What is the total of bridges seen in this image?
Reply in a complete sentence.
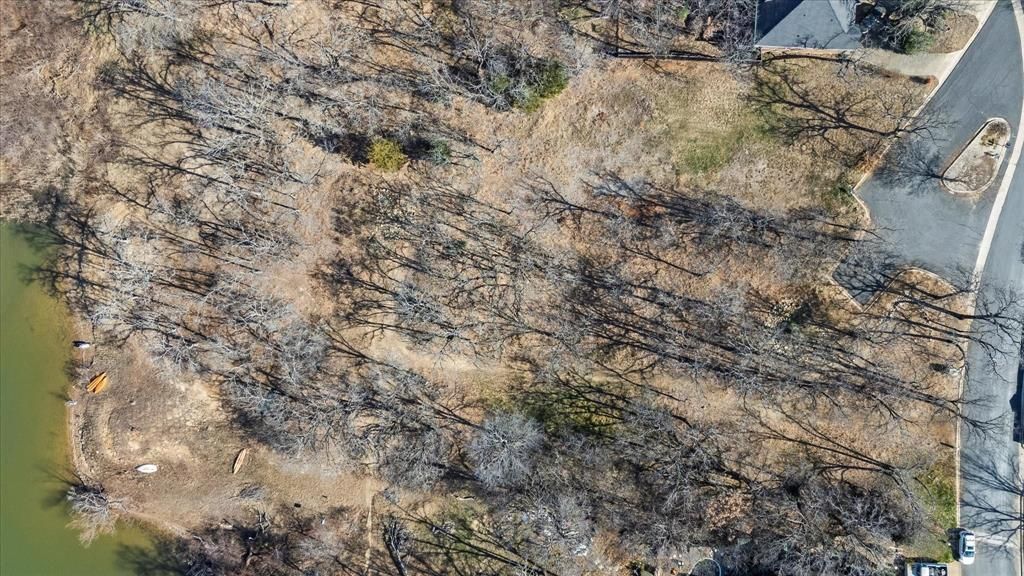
No bridges are visible.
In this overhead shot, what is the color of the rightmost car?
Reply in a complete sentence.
The color of the rightmost car is white.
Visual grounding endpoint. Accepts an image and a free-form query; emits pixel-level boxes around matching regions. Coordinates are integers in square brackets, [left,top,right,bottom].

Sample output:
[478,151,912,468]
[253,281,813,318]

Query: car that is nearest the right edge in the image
[958,530,978,564]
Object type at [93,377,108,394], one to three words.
boat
